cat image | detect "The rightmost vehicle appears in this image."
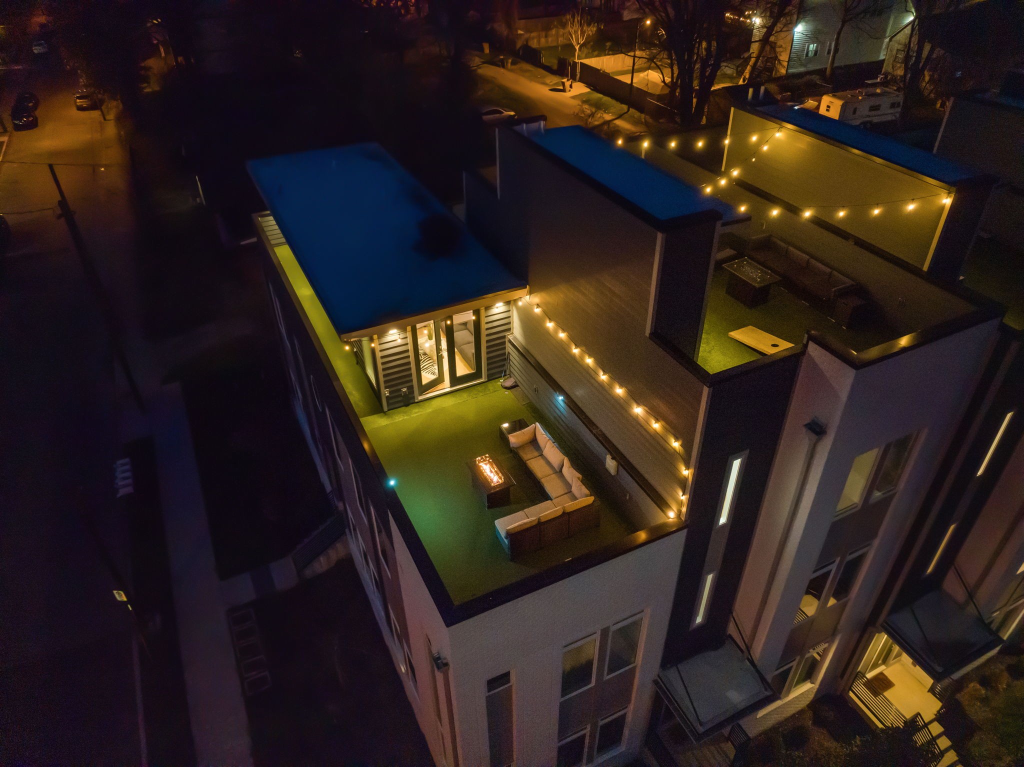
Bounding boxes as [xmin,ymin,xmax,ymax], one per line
[818,91,897,125]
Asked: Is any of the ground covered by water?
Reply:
No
